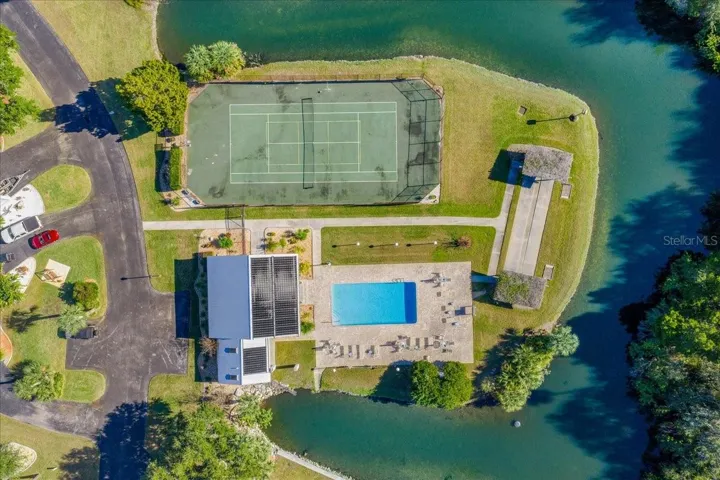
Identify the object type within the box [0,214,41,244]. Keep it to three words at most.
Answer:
truck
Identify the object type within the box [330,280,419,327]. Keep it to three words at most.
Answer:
swimming pool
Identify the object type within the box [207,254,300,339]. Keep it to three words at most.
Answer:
building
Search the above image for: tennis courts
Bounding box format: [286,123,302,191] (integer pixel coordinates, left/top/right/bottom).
[186,79,442,207]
